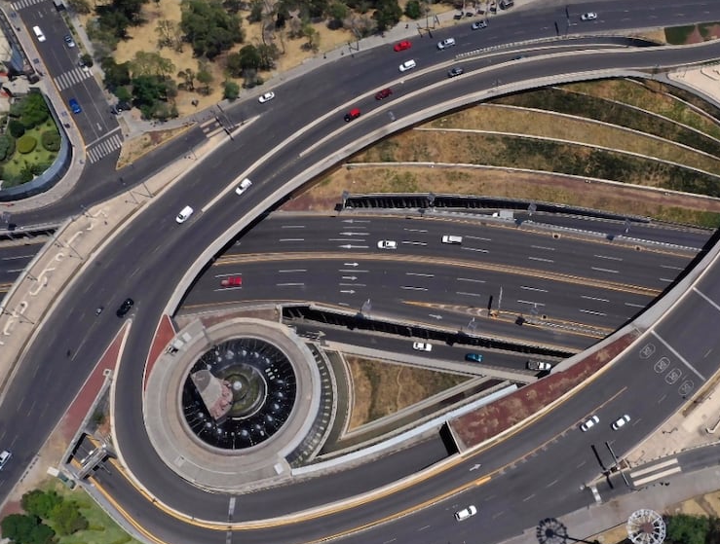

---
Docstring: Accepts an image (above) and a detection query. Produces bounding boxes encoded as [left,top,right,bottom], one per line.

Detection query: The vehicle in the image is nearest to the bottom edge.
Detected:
[454,506,477,521]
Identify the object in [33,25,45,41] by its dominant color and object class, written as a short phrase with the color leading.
white vehicle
